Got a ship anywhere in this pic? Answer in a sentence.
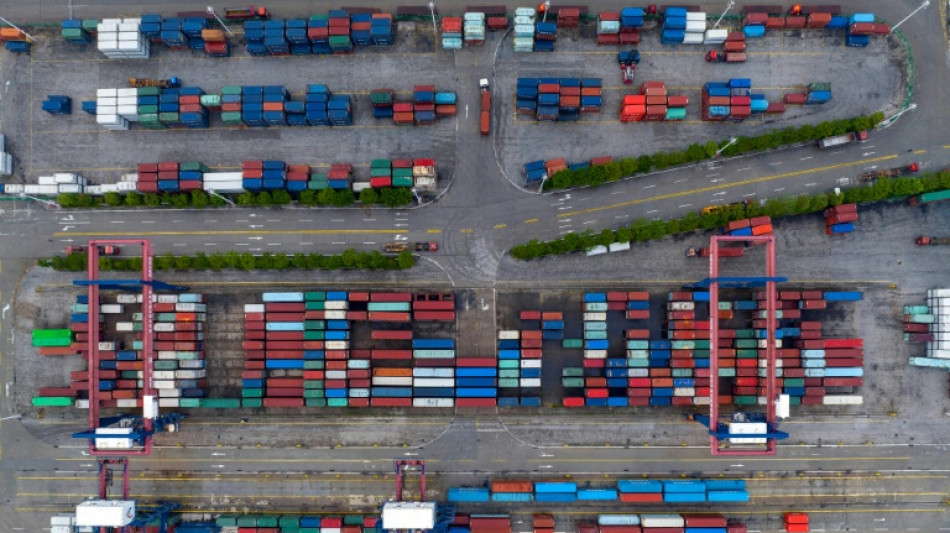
No, I can see no ship in this picture.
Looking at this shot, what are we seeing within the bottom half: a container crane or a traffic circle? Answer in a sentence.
There is a container crane within the bottom half.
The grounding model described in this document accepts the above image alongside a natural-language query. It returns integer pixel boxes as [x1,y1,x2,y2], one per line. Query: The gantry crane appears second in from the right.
[383,454,469,533]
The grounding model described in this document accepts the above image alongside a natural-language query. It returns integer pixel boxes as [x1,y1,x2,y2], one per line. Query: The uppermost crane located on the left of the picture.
[72,237,196,457]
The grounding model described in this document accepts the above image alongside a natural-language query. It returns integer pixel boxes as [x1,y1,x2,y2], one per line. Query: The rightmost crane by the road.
[675,234,791,457]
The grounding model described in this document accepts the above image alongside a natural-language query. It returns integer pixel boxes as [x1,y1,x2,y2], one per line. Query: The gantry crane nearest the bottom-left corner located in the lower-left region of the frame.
[76,454,191,533]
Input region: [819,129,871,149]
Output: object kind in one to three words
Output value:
vehicle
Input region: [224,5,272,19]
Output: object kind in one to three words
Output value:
vehicle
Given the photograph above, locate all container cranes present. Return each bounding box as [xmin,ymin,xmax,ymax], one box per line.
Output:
[72,237,196,457]
[76,454,191,533]
[675,234,791,457]
[383,454,469,533]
